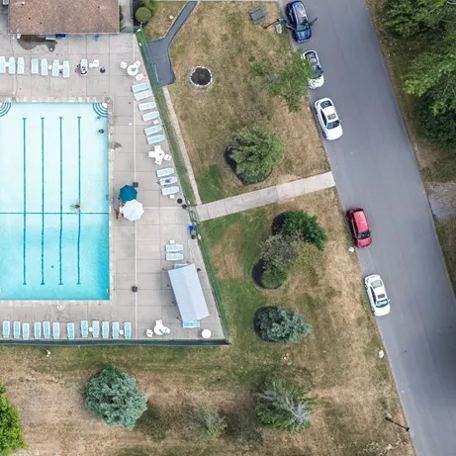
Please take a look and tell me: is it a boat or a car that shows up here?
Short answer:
car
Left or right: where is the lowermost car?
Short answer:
right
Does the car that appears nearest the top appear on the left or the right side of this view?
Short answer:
right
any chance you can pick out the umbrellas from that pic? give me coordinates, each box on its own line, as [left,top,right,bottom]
[120,199,143,221]
[118,183,137,201]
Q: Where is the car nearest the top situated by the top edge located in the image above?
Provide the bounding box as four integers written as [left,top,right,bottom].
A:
[281,0,315,41]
